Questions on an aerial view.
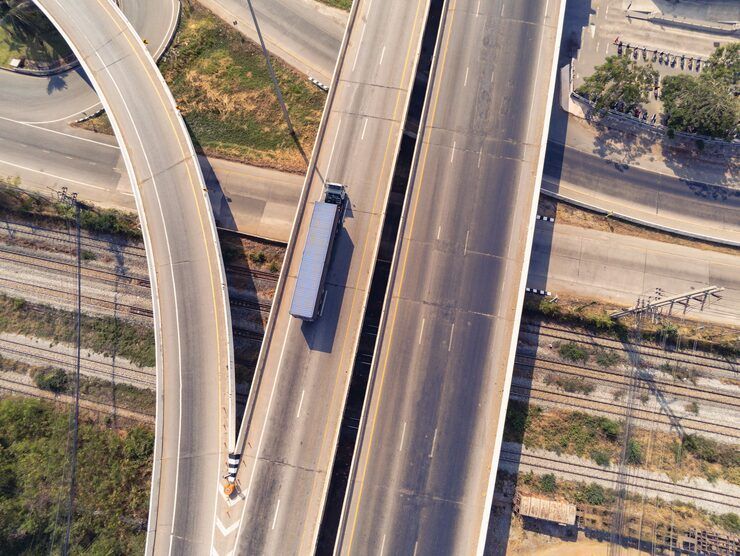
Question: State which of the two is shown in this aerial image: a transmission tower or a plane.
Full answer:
This aerial view contains a transmission tower.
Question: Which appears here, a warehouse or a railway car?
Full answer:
The image shows a railway car.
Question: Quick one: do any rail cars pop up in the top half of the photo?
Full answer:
No, no rail car appears in the top half of the photo.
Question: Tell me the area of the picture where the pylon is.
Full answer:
The pylon sits in the right section of the image.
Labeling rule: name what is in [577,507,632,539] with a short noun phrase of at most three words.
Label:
rail car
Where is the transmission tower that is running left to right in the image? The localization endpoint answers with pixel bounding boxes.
[610,287,730,328]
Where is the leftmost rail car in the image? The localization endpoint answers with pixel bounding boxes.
[509,492,577,527]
